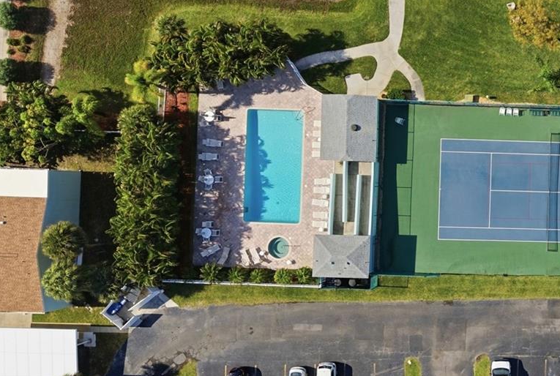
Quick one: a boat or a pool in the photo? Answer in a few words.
pool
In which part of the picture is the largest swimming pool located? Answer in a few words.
center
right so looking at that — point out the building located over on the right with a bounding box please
[313,93,379,278]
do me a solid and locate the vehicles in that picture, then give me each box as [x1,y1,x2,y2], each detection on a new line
[289,366,309,376]
[489,360,511,376]
[227,367,248,376]
[315,362,337,376]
